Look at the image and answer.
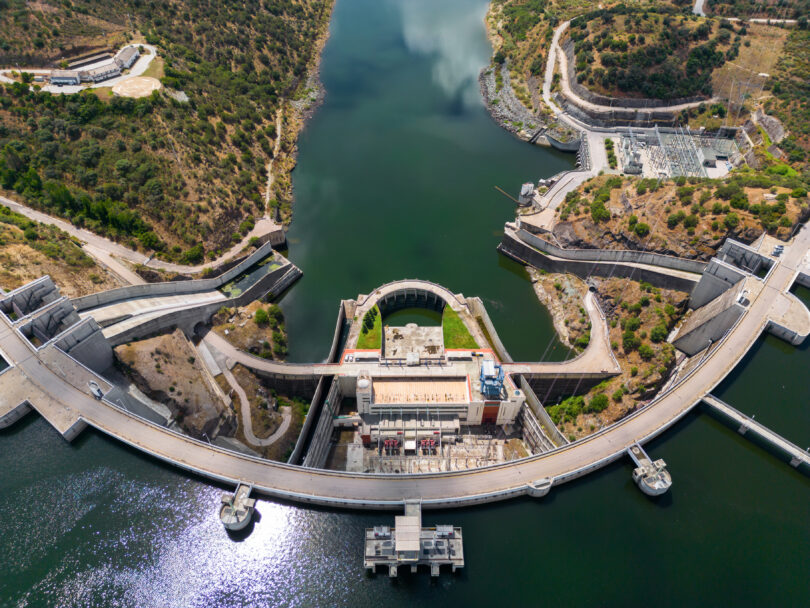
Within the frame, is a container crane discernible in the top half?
No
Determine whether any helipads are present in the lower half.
No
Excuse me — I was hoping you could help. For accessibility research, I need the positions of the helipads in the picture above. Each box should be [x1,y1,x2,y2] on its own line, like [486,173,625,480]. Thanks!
[110,75,162,100]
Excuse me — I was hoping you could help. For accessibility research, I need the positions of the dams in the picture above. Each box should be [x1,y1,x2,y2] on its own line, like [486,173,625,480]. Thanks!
[0,218,810,506]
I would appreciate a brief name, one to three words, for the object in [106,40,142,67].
building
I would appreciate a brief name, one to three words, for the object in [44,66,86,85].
building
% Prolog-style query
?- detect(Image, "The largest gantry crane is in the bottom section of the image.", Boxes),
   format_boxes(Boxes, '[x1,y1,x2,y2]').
[480,355,508,397]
